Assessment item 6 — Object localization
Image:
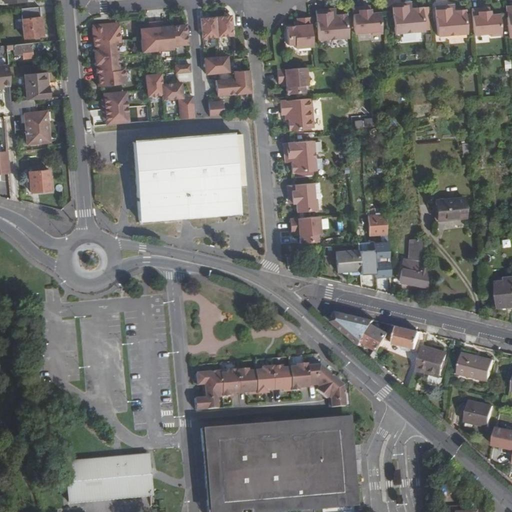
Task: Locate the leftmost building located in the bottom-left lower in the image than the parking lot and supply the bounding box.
[68,452,154,506]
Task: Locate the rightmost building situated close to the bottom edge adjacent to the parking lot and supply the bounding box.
[204,414,360,512]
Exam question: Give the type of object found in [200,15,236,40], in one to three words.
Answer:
house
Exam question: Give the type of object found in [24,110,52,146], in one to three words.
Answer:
house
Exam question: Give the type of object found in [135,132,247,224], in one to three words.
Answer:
building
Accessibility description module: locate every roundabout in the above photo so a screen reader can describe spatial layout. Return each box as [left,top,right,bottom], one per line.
[58,228,122,292]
